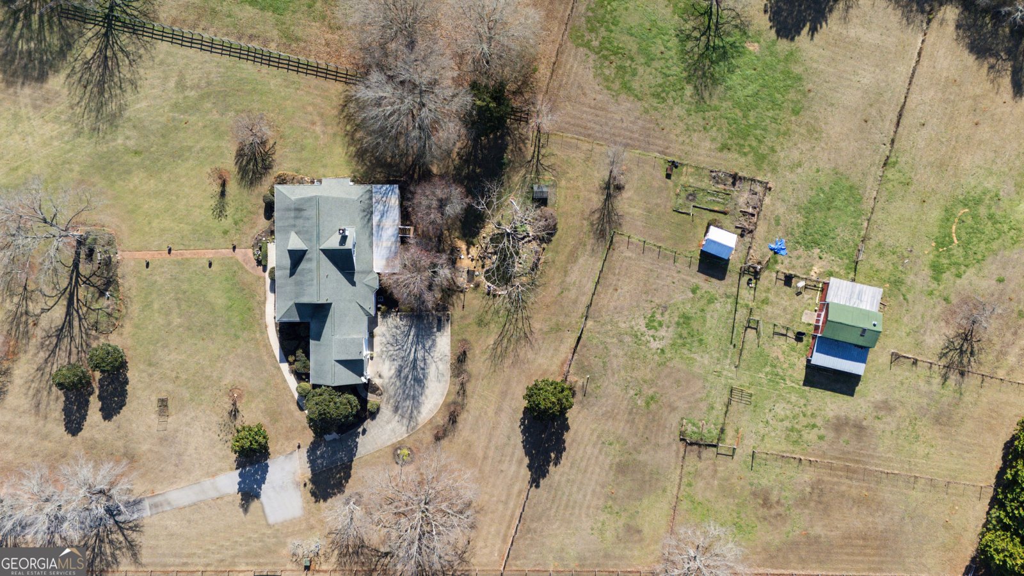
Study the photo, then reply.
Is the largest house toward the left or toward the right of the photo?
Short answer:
left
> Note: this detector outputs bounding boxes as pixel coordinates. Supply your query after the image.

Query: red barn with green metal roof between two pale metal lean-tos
[805,277,883,374]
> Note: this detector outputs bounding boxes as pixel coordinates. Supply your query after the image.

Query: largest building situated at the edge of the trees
[275,179,400,387]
